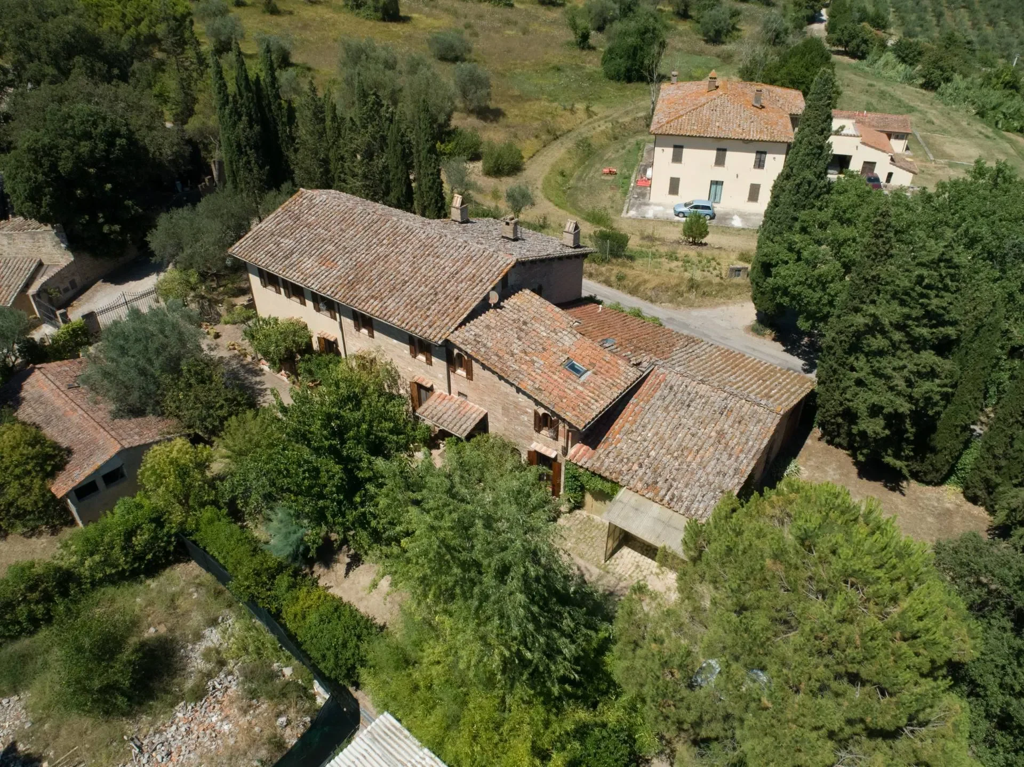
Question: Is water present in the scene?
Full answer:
No, no water is visible.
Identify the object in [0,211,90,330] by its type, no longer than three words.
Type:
building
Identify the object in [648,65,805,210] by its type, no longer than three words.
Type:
house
